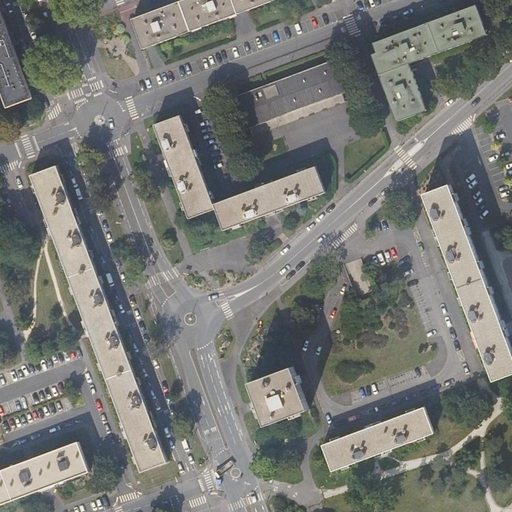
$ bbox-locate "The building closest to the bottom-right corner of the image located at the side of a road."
[320,406,434,472]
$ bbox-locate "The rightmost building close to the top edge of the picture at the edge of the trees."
[370,6,486,121]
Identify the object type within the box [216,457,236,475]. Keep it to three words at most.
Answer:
vehicle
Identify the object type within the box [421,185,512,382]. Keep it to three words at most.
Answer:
building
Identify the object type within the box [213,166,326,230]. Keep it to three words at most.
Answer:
building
